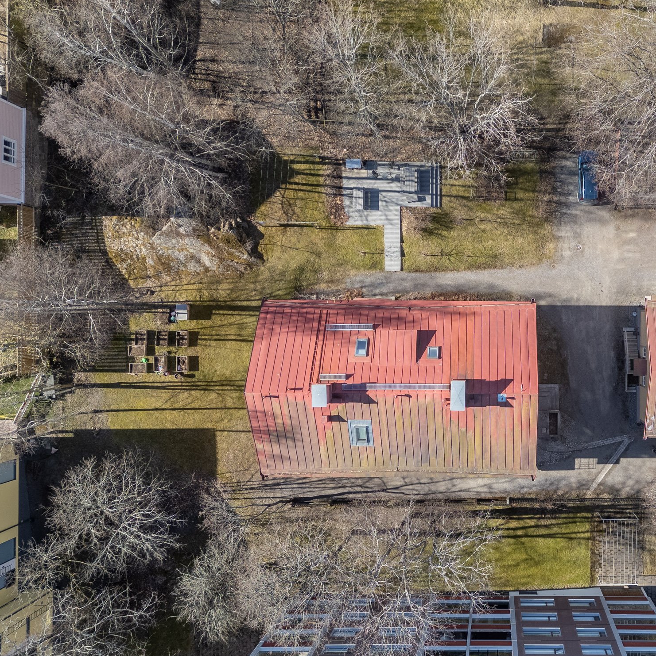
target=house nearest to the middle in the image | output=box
[244,296,540,482]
